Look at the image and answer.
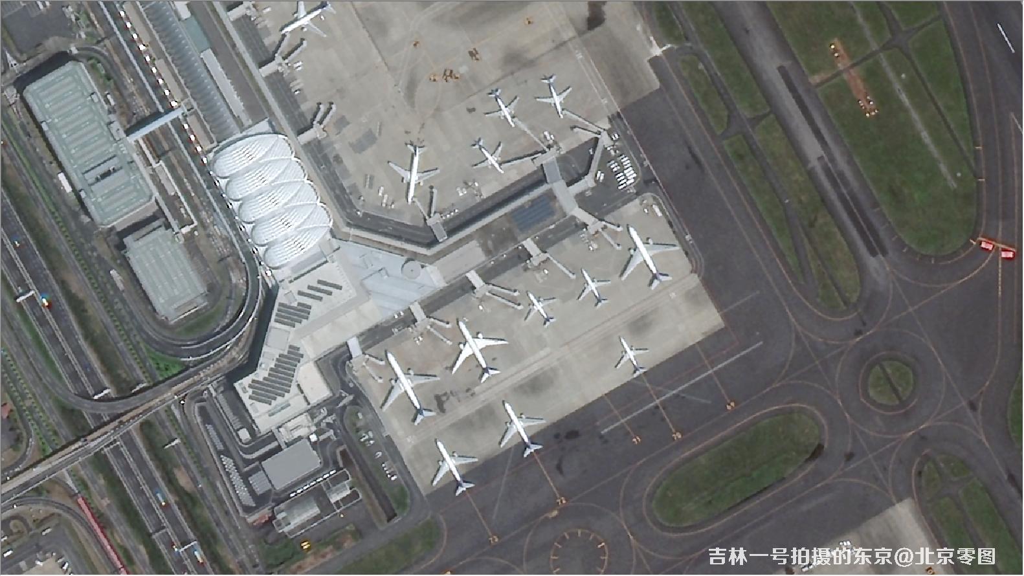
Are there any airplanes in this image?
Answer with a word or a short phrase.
Yes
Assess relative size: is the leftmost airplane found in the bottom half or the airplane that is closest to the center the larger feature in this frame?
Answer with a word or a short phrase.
the leftmost airplane found in the bottom half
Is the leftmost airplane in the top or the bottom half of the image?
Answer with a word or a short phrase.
top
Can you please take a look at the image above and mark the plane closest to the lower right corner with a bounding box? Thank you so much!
[616,337,650,379]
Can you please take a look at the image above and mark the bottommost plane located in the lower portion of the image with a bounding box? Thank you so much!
[433,440,478,497]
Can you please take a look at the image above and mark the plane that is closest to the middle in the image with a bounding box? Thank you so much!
[526,292,559,330]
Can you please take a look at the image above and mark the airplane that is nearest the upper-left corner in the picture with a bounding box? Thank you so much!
[281,0,338,37]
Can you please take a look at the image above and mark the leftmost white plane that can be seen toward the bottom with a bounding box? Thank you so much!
[382,352,441,426]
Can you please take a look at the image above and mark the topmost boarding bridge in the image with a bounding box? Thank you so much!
[228,0,259,20]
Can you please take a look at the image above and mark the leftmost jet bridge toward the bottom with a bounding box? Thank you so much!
[348,338,387,383]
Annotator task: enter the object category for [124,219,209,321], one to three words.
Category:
building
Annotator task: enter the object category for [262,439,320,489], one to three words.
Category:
building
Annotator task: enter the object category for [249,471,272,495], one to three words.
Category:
shed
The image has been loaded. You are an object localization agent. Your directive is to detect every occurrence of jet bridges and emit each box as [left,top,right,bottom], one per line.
[298,104,337,144]
[588,219,623,250]
[524,239,576,280]
[499,118,557,169]
[412,189,447,241]
[228,0,259,20]
[348,338,387,383]
[562,109,614,146]
[260,33,307,77]
[409,301,452,345]
[467,271,523,310]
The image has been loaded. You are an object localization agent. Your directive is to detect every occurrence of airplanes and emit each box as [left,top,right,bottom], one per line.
[281,0,338,37]
[382,352,441,426]
[433,440,478,497]
[526,292,559,330]
[578,269,611,309]
[454,322,510,386]
[622,226,682,292]
[502,401,546,459]
[616,337,650,379]
[535,73,571,118]
[388,142,440,204]
[484,86,518,127]
[472,136,503,173]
